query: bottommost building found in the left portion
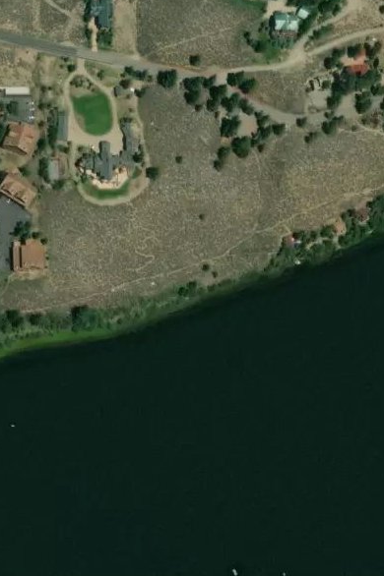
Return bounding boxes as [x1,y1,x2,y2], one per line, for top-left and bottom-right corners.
[13,238,44,276]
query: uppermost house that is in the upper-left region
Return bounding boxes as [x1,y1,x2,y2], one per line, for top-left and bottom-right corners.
[90,0,111,30]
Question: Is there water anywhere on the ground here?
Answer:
Yes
